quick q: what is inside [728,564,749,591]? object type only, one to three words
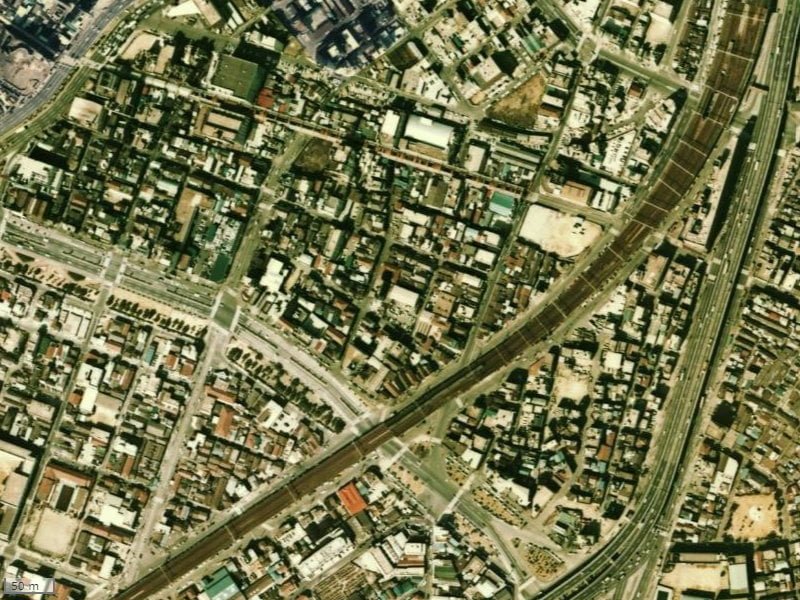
building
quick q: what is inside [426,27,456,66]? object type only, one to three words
building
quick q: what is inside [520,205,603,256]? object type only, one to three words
sports field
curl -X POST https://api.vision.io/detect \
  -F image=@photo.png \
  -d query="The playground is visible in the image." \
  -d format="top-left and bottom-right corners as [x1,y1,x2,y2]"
[33,508,80,557]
